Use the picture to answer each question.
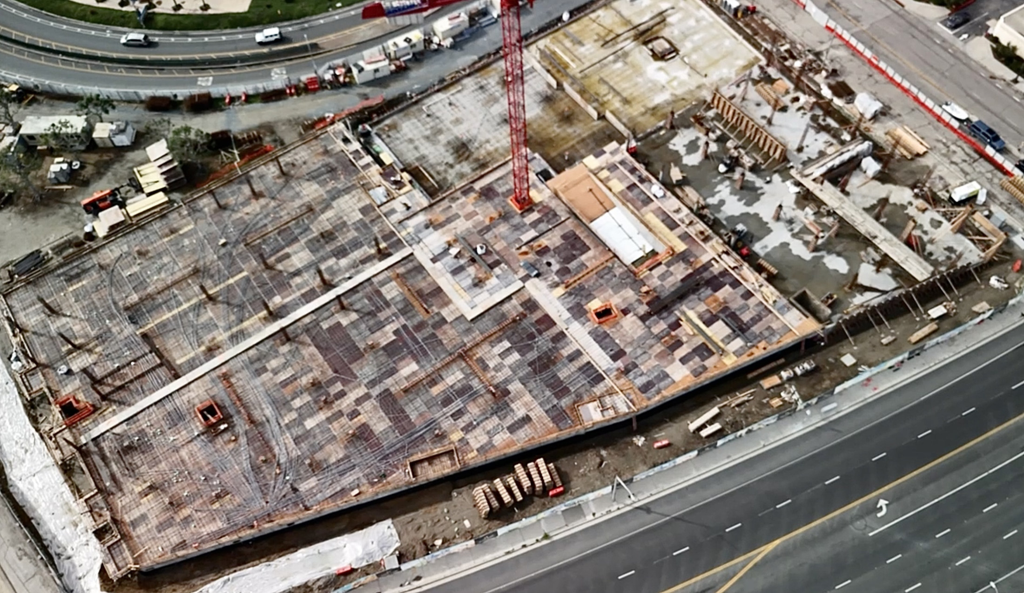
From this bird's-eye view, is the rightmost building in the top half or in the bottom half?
top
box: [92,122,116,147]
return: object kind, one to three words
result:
building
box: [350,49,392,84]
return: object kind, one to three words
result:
building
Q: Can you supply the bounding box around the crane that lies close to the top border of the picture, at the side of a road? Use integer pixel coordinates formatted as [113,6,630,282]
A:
[360,0,540,217]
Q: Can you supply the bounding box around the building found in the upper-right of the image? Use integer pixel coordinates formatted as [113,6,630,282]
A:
[982,2,1024,60]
